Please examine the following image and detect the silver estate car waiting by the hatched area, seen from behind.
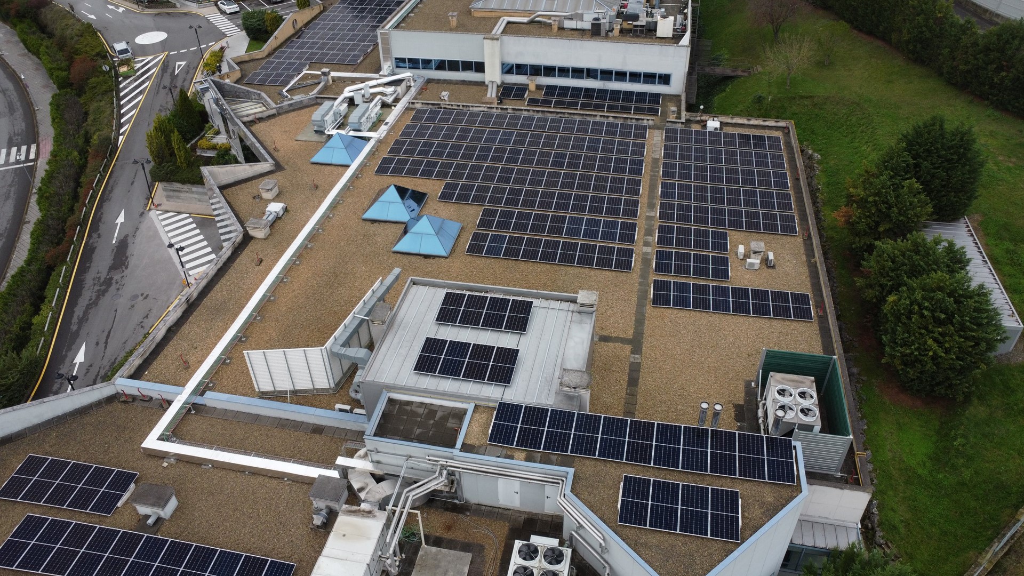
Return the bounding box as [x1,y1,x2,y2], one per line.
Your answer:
[108,37,134,60]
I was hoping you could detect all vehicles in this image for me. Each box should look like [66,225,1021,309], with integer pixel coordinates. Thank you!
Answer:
[108,37,134,60]
[214,0,239,14]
